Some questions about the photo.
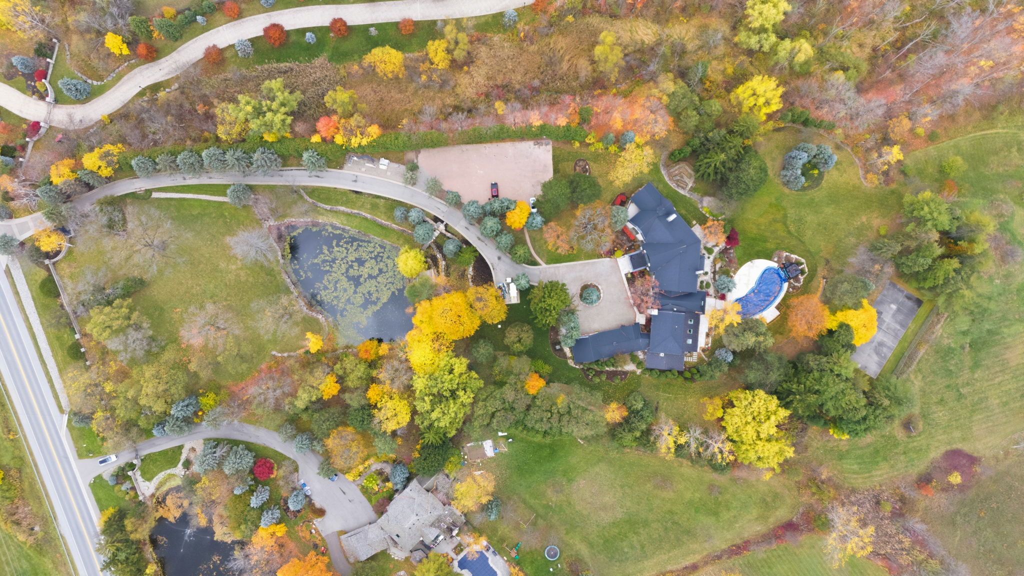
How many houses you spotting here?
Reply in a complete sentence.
The picture shows 2 houses.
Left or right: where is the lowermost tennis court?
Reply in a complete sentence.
You can find the lowermost tennis court on the right side of the picture.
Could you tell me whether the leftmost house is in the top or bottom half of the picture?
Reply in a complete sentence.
The leftmost house sits in the bottom half of the picture.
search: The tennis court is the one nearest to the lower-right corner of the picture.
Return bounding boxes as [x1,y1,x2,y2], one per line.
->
[847,281,923,378]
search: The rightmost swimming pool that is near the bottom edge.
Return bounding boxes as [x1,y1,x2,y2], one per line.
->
[453,542,510,576]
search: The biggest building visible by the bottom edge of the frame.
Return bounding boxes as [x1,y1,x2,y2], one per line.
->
[340,477,465,562]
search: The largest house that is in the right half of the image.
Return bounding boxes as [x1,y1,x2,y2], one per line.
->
[575,182,706,371]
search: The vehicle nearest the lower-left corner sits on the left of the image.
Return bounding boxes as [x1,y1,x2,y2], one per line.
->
[95,453,117,466]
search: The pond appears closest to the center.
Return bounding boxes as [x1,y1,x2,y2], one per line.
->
[288,223,413,343]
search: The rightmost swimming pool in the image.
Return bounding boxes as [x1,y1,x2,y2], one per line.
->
[723,259,789,323]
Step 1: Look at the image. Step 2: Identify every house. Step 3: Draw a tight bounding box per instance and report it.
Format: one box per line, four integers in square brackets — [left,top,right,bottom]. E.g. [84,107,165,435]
[575,182,706,371]
[340,477,465,562]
